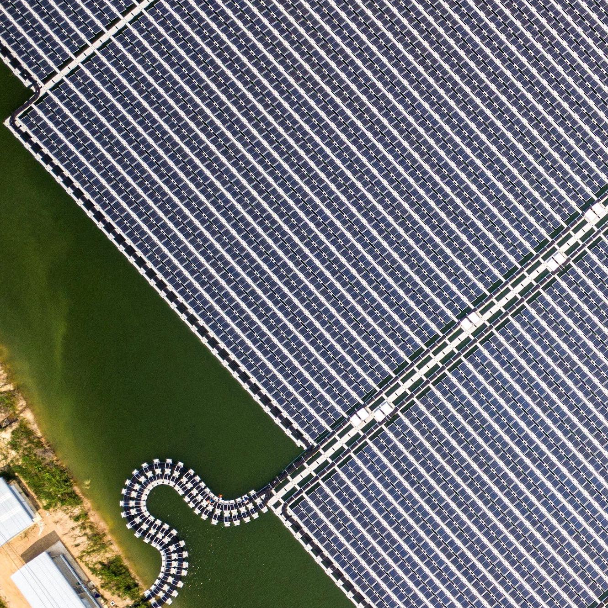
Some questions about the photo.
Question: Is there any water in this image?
Yes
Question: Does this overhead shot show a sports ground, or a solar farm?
solar farm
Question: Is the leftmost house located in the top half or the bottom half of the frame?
bottom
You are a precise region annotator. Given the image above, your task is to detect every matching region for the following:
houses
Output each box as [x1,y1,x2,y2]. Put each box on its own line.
[10,546,103,608]
[0,473,54,546]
